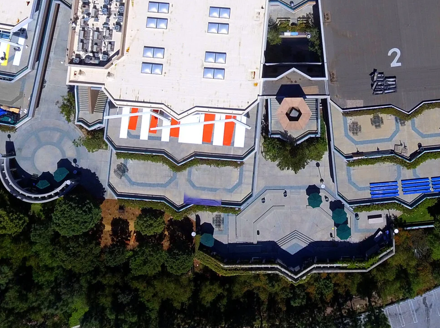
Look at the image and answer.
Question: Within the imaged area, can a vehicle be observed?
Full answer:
No, no vehicle is visible in the view.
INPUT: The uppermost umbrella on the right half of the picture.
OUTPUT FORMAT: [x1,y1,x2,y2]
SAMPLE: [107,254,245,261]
[304,190,325,211]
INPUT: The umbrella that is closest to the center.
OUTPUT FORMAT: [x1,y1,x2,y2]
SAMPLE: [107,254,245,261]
[195,230,217,252]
